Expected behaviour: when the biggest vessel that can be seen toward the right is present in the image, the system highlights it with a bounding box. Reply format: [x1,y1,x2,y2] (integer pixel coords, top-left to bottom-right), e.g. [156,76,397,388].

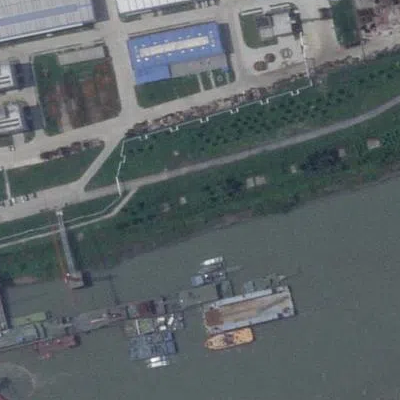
[203,286,295,333]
